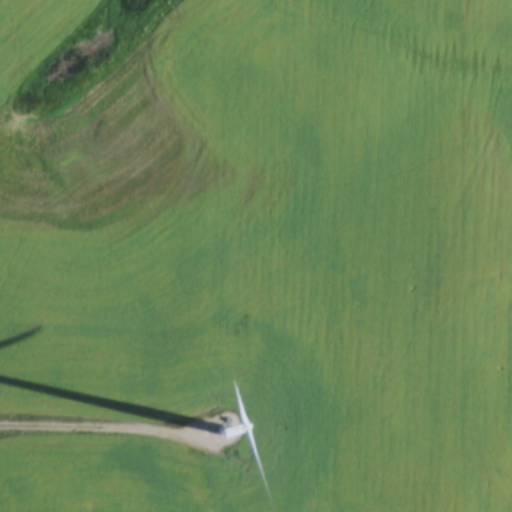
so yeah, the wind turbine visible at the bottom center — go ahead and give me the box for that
[224,376,268,501]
